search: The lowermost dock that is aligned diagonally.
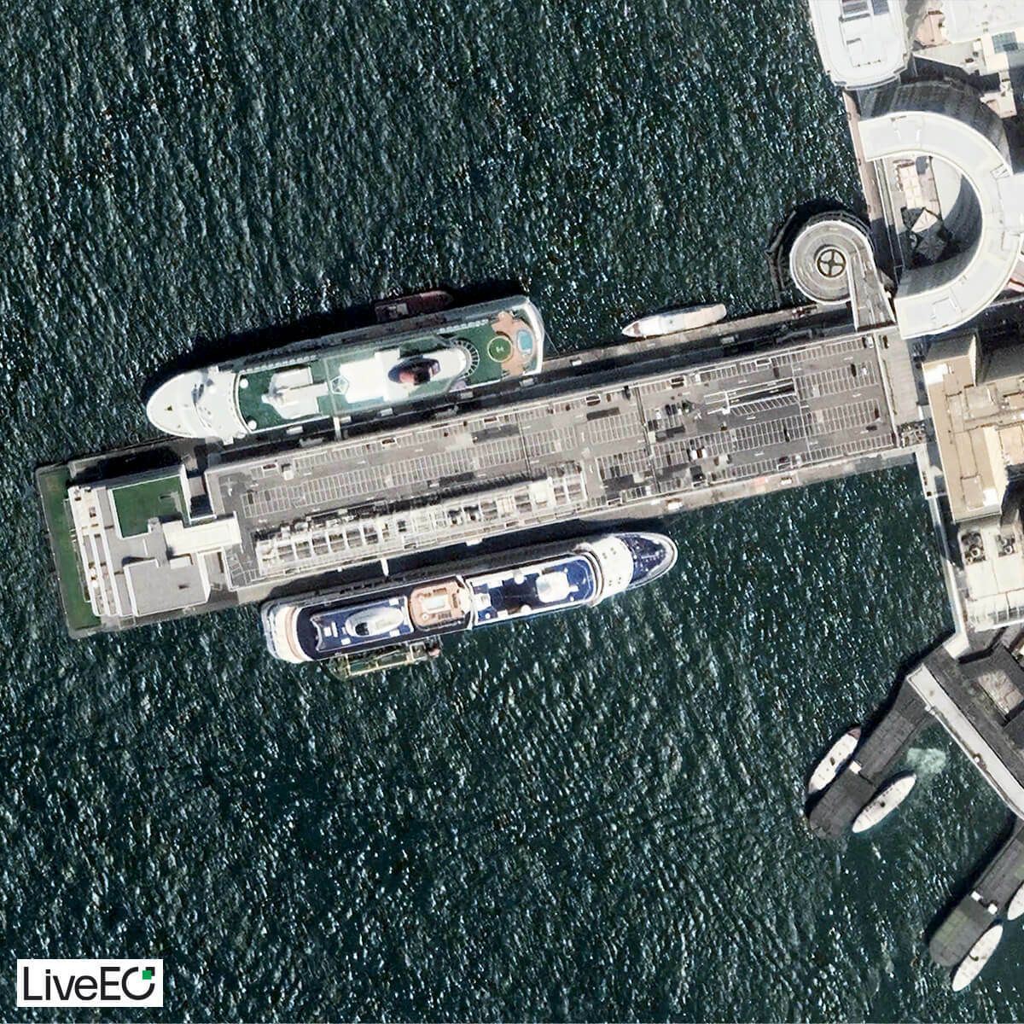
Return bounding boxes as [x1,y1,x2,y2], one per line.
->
[929,812,1024,968]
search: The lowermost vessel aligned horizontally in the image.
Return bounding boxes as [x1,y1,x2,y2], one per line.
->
[329,634,441,680]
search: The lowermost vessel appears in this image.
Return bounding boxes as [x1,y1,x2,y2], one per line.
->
[953,924,1002,988]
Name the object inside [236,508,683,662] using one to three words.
ship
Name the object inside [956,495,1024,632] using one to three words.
building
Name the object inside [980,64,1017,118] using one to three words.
house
